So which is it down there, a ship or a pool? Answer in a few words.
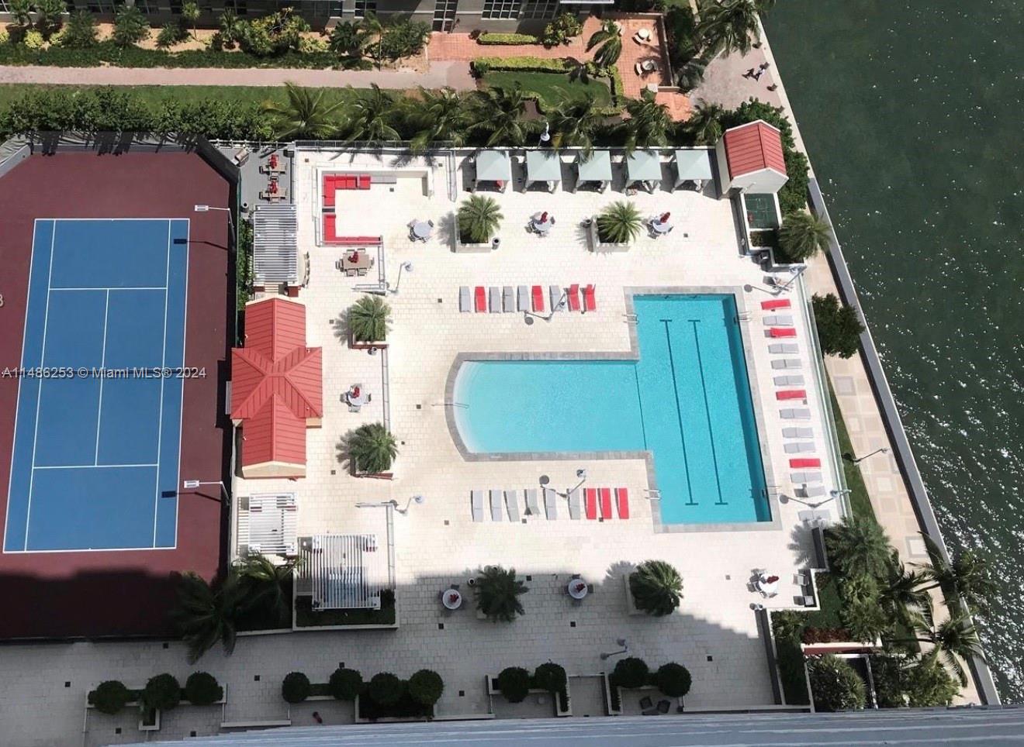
pool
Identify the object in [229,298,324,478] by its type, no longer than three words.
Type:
building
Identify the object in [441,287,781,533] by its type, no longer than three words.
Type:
swimming pool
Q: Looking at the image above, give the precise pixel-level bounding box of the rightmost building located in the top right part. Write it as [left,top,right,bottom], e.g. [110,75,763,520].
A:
[715,121,791,195]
